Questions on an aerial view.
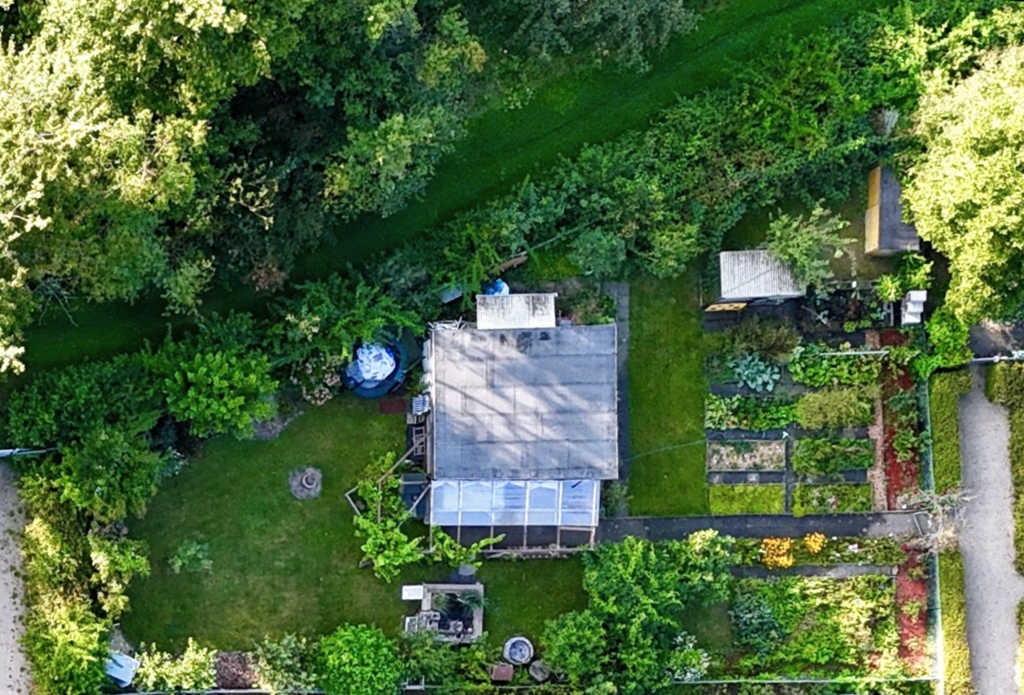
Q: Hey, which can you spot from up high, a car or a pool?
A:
pool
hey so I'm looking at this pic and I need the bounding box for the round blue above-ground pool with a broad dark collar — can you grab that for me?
[343,333,408,396]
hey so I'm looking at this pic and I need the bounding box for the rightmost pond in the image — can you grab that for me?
[421,585,484,642]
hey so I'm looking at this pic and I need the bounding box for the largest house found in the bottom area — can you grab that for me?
[426,325,618,523]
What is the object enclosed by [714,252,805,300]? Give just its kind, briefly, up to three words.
shed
